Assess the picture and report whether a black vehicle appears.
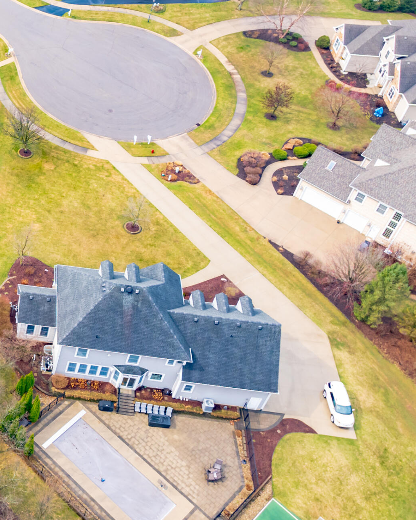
No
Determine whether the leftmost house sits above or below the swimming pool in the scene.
above it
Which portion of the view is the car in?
bottom right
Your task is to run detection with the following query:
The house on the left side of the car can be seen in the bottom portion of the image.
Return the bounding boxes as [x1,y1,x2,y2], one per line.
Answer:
[16,257,283,414]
